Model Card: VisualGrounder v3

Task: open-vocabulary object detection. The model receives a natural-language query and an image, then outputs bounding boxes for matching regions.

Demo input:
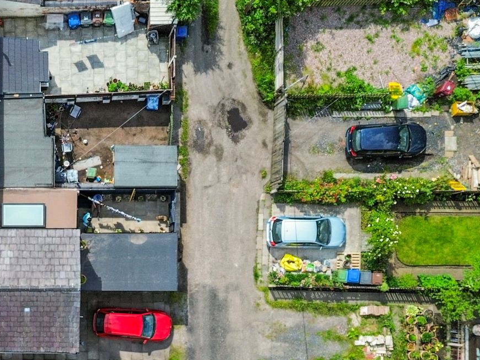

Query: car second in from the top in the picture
[270,211,347,250]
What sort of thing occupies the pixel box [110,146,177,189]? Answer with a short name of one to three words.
shed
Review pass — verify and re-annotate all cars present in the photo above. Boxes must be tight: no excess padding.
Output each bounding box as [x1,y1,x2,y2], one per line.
[270,211,347,250]
[349,118,430,158]
[96,306,172,346]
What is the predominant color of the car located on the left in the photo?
red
